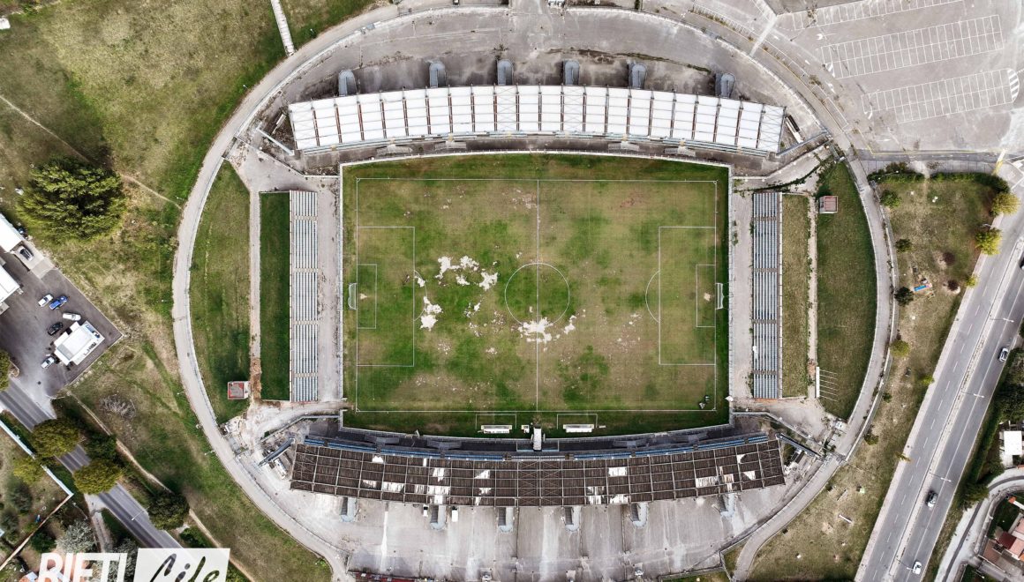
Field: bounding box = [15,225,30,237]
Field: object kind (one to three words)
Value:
vehicle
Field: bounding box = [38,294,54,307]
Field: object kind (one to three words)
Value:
vehicle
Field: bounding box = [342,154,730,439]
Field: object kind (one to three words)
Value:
soccer field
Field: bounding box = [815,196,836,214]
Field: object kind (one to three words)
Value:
shed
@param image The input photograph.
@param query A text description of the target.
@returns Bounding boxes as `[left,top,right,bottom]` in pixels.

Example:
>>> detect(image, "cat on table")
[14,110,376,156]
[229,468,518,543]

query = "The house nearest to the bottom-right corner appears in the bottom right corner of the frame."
[991,510,1024,563]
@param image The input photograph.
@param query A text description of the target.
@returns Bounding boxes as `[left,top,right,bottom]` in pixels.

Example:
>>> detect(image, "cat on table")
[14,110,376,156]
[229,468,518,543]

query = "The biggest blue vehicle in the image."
[48,295,68,309]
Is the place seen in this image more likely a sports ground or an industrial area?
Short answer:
sports ground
